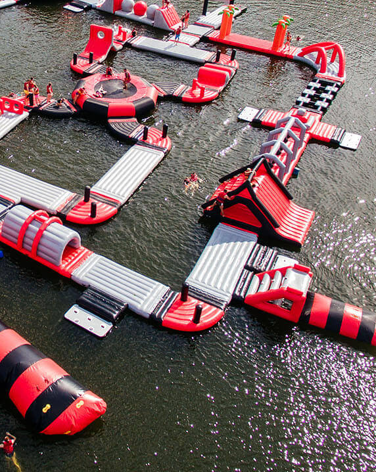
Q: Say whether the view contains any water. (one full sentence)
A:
Yes, the picture does contain water.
